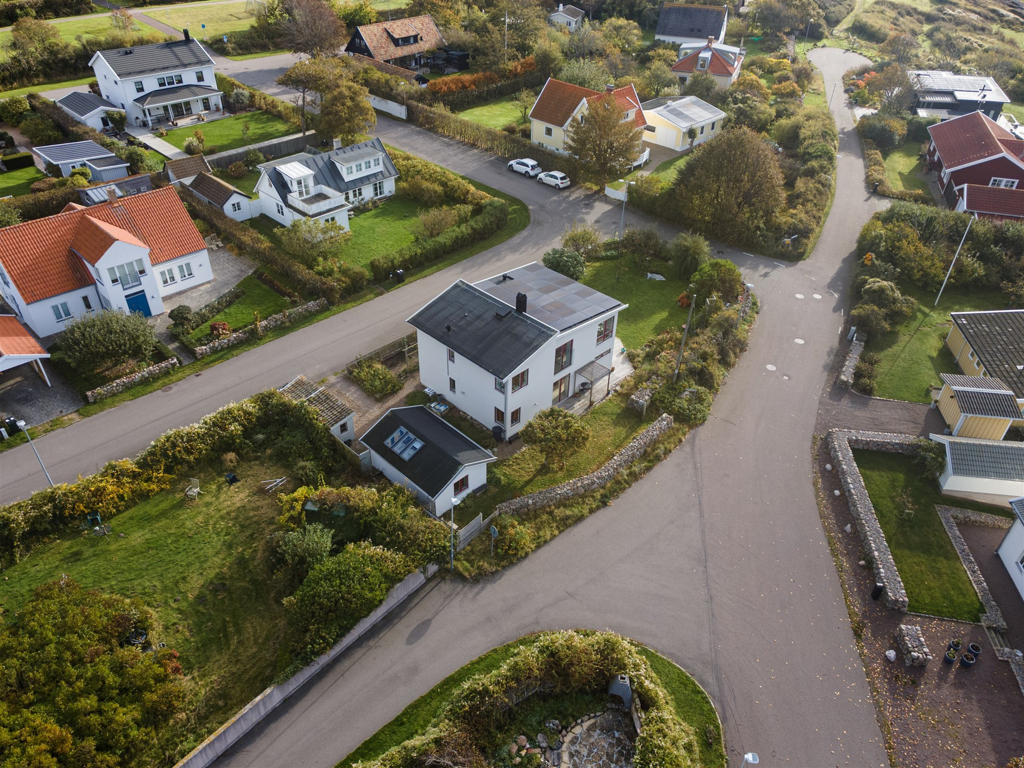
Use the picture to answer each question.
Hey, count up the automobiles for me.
2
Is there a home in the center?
Yes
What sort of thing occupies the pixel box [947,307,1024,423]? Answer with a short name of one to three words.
house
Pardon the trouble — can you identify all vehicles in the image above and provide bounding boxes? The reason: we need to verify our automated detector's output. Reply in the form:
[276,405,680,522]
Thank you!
[537,169,573,189]
[507,155,543,177]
